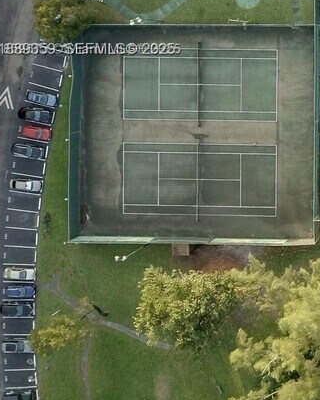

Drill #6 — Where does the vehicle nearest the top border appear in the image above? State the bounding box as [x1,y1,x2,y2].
[27,90,60,107]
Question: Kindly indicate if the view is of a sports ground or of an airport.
sports ground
